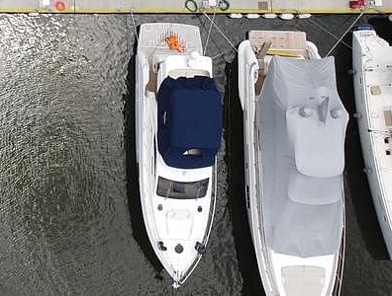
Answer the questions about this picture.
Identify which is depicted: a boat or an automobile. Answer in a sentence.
Looking from above, you can make out a boat.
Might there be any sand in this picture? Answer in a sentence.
No, there is no sand in the image.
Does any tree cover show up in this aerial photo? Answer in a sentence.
No, no tree cover is visible.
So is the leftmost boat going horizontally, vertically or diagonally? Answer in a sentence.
The leftmost boat runs vertically in the image.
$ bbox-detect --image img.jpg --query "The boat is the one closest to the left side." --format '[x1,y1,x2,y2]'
[130,25,223,293]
